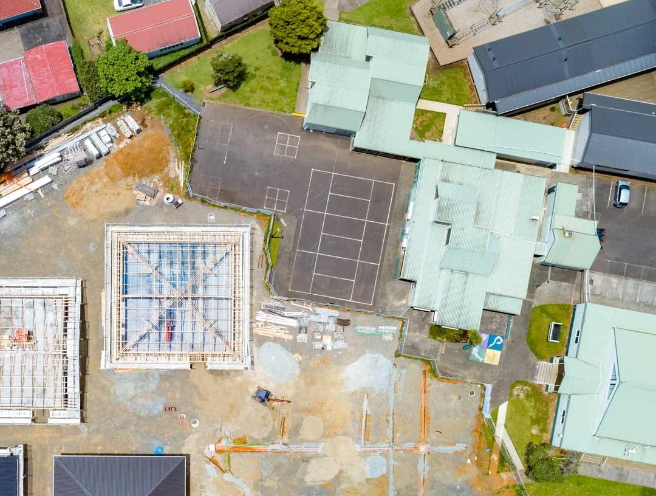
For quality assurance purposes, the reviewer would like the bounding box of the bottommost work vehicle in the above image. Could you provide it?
[254,384,293,405]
